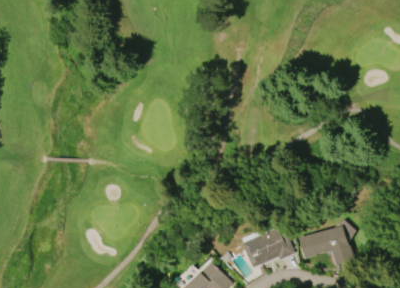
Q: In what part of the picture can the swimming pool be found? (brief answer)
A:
bottom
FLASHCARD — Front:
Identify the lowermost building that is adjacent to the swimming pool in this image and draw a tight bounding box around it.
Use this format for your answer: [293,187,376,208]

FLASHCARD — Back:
[177,258,236,288]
